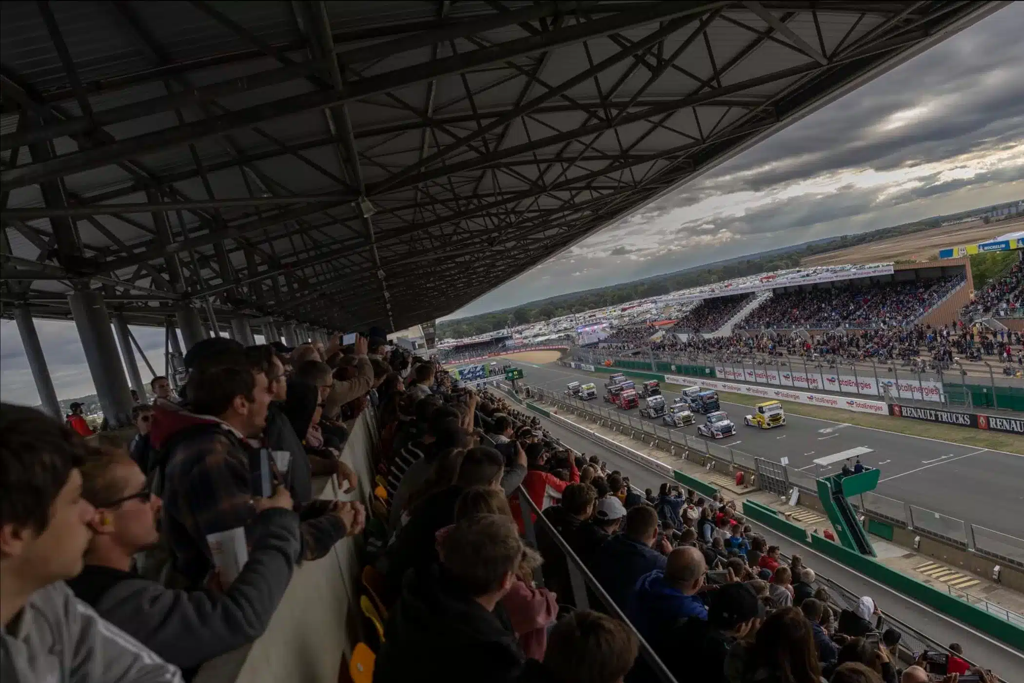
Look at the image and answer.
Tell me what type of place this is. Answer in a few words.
sports ground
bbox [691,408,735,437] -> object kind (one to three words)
truck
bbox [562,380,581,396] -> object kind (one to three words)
vehicle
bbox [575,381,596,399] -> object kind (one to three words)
vehicle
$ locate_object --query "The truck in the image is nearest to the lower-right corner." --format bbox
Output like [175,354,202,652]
[738,398,783,428]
